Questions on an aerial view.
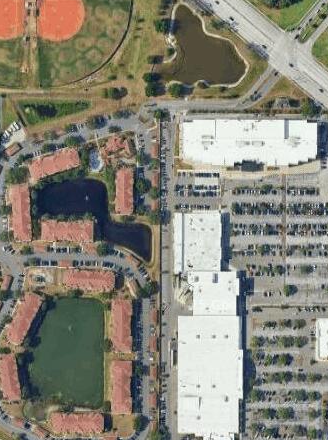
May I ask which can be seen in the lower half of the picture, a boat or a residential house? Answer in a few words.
residential house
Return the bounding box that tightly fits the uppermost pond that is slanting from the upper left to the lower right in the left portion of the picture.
[36,179,151,261]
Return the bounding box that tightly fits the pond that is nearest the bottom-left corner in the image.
[29,297,104,409]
